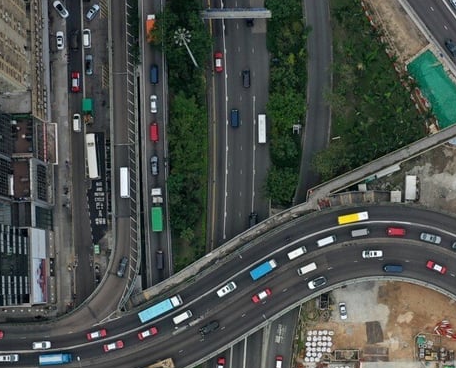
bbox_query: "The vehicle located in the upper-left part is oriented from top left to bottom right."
[55,0,70,19]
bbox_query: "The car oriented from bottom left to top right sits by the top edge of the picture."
[85,3,101,23]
